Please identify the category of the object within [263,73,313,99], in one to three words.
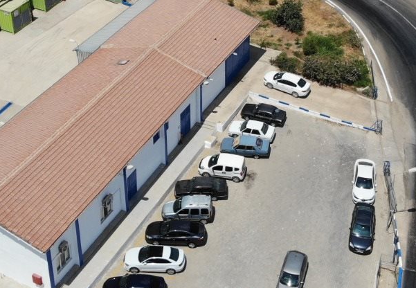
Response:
car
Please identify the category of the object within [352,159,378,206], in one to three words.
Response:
car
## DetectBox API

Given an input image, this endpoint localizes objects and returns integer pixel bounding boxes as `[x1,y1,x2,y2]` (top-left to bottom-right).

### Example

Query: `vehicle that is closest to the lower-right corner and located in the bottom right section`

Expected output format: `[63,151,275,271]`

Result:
[349,202,378,254]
